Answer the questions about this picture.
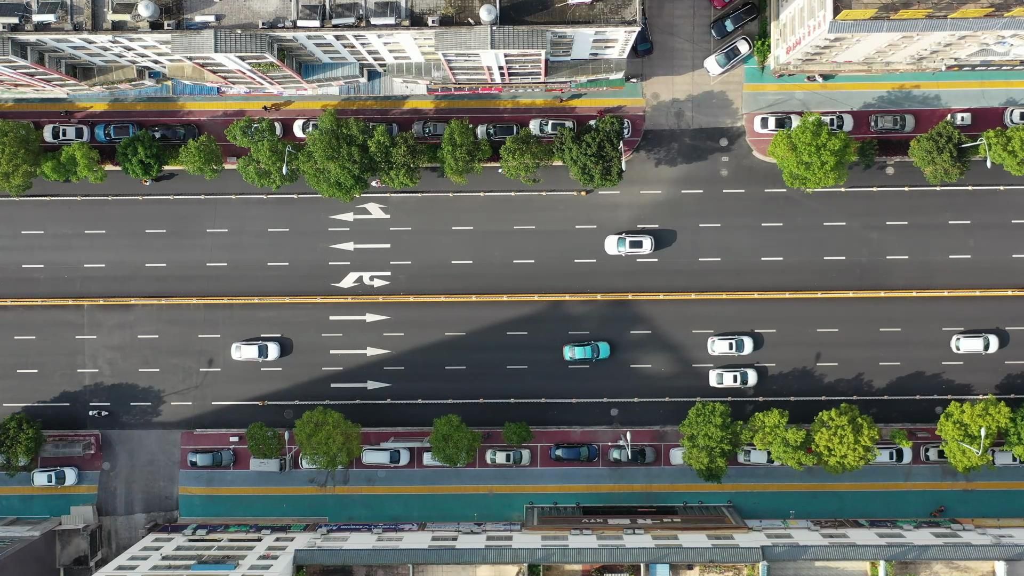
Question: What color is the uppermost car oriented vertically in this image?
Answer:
black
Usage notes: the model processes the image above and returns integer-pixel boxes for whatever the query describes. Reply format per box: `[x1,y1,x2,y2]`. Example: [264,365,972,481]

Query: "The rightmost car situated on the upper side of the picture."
[1003,106,1024,128]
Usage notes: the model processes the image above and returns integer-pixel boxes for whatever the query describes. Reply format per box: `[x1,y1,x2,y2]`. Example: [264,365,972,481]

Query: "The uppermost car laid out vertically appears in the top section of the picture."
[632,7,656,60]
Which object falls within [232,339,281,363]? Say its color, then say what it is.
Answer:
white car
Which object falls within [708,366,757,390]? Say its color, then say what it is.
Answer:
white car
